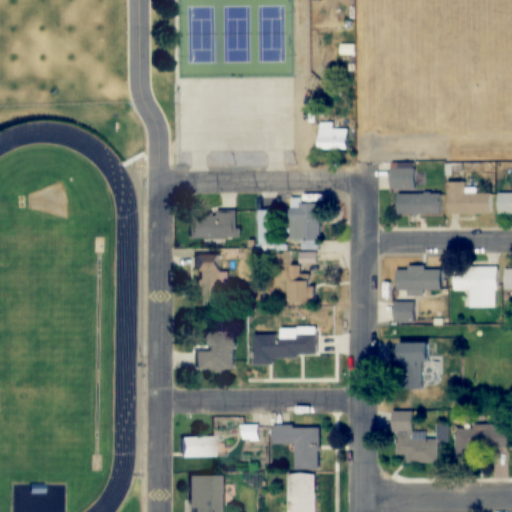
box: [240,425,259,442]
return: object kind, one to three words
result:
shed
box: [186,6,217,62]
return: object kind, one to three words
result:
tennis court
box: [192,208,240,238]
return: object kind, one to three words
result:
house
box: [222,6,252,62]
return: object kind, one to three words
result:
tennis court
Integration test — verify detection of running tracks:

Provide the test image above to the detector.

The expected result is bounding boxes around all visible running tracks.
[0,120,139,512]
